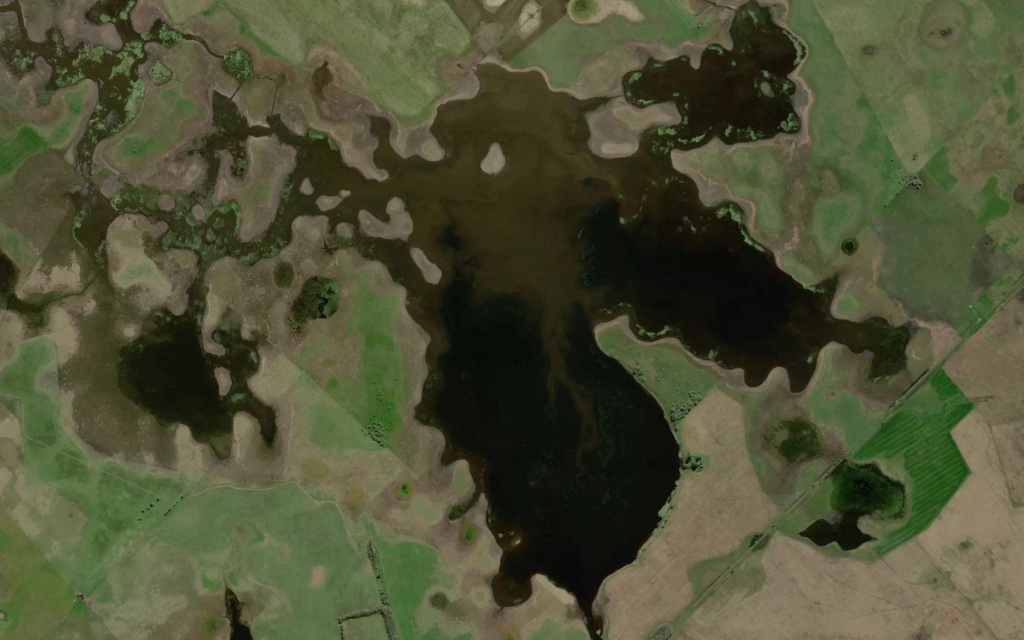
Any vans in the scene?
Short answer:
No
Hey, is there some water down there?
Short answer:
Yes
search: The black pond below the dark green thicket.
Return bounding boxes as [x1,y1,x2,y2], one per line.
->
[800,507,876,550]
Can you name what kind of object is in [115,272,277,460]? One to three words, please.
pond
